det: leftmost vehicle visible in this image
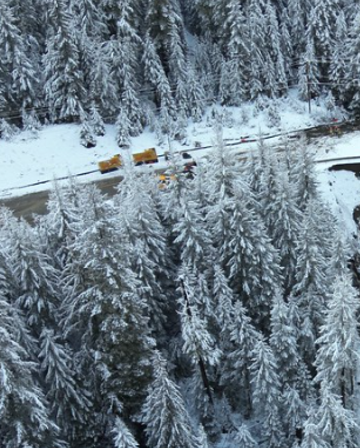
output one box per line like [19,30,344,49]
[94,157,126,176]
